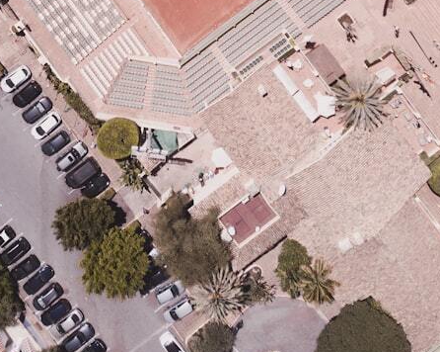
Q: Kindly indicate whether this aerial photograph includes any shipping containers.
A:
No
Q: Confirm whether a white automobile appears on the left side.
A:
Yes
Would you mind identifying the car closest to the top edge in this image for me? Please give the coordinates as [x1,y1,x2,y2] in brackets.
[0,65,32,92]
